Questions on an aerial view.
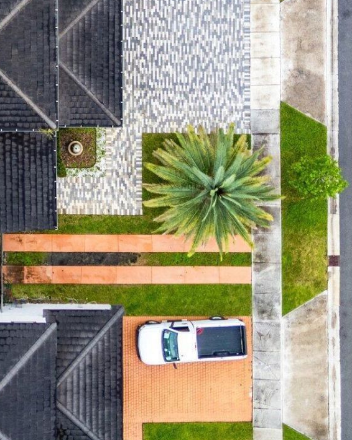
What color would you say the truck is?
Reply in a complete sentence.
The color of the truck is white.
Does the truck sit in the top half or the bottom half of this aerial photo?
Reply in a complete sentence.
It is in the bottom half that the truck appears.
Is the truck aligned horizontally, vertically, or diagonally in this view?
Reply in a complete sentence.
The truck has been laid out horizontally relative to the frame.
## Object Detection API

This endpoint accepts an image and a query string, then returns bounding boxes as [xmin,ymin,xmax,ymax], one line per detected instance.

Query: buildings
[0,0,125,235]
[0,299,125,440]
